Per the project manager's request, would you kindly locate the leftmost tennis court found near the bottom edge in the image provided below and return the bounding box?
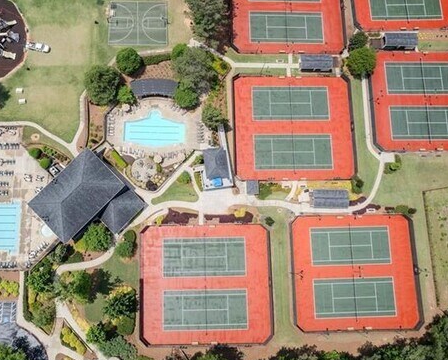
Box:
[140,282,270,345]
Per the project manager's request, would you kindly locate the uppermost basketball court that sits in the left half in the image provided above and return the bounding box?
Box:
[108,1,168,45]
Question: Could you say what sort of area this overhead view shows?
sports ground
